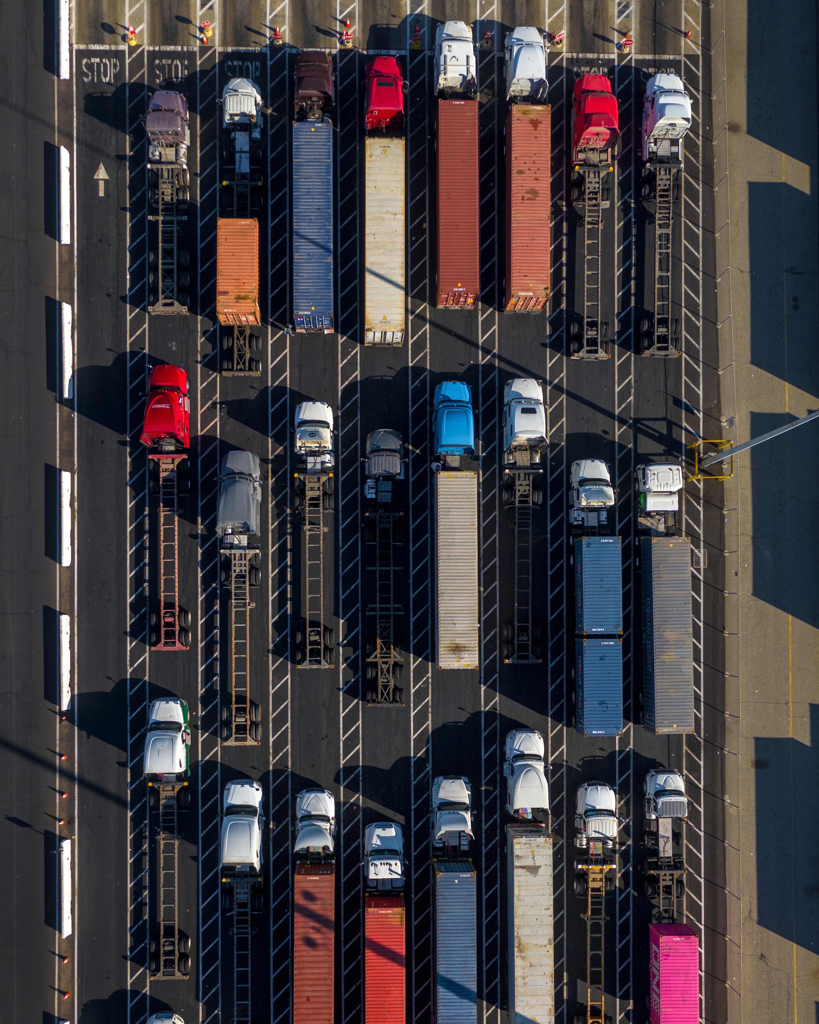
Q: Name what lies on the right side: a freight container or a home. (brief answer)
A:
freight container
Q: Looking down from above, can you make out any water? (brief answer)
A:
No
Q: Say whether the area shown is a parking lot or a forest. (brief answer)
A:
parking lot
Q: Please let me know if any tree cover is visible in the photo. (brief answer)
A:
No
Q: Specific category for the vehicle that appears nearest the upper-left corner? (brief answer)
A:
truck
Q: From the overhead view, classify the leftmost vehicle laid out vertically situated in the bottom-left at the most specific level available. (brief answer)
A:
truck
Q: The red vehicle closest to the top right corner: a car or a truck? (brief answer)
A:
truck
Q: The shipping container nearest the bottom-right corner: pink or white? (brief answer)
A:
pink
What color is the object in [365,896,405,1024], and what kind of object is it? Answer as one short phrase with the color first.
red shipping container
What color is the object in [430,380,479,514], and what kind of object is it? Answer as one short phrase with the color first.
blue truck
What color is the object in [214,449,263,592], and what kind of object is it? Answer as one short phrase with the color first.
gray truck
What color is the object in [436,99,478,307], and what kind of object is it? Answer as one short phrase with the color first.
red shipping container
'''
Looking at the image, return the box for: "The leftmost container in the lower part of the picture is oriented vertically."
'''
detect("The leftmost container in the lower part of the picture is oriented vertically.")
[295,864,335,1024]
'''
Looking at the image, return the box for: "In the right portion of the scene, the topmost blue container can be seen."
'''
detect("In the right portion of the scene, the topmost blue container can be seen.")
[574,536,621,634]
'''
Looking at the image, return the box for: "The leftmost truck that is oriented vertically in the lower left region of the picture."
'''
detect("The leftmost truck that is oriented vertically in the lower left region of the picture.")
[141,695,190,821]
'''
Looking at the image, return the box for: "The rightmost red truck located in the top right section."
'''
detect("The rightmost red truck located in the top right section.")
[572,74,622,212]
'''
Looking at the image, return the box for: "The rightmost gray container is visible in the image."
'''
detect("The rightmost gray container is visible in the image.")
[641,537,696,735]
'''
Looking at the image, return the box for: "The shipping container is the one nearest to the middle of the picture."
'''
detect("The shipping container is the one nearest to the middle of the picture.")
[435,471,477,669]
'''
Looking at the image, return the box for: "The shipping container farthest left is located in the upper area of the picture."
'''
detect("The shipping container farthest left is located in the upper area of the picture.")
[218,218,262,326]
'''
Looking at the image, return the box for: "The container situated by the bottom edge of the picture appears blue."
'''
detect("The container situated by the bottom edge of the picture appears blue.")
[434,862,476,1024]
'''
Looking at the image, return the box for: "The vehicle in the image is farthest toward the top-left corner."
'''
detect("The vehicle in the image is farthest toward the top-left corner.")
[141,91,190,213]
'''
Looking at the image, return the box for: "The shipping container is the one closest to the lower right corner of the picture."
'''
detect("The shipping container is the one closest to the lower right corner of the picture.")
[648,923,698,1024]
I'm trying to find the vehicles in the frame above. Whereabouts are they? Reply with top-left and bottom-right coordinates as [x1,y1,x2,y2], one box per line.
[574,779,624,907]
[290,51,338,133]
[432,19,480,144]
[503,727,552,861]
[430,772,478,893]
[289,400,338,516]
[141,91,190,213]
[361,428,409,557]
[361,820,409,897]
[642,74,695,210]
[141,364,190,500]
[572,74,622,212]
[569,457,619,574]
[217,79,265,229]
[214,449,263,592]
[291,786,339,862]
[643,768,696,901]
[430,380,479,514]
[503,25,551,147]
[361,55,409,137]
[634,459,686,566]
[217,777,265,918]
[141,695,190,821]
[145,1007,187,1024]
[502,377,550,513]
